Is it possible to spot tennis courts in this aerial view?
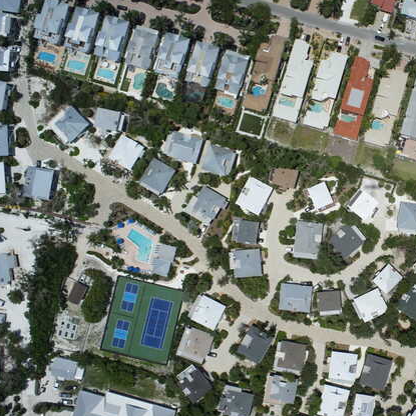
Yes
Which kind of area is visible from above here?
residential area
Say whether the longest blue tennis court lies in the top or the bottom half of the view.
bottom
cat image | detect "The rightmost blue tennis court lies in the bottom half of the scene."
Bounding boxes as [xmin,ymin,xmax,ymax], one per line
[141,298,173,349]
